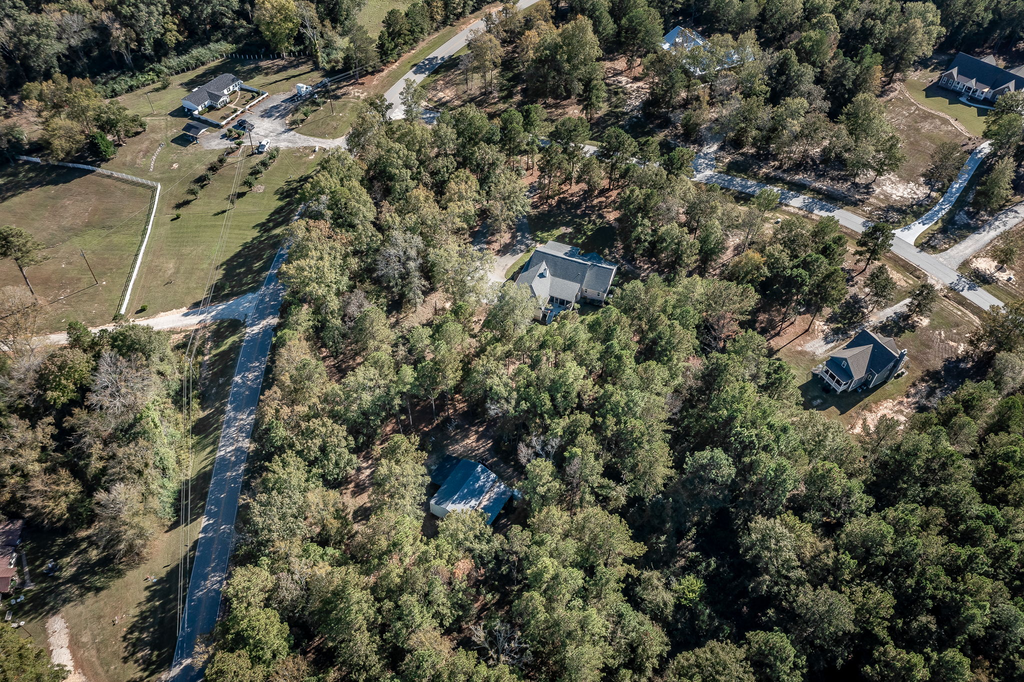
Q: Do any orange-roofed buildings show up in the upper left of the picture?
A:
No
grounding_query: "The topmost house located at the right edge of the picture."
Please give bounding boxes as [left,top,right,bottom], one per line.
[938,54,1024,109]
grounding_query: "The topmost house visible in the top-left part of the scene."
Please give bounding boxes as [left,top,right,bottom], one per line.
[177,73,241,114]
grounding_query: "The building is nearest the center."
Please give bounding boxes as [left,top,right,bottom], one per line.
[508,240,619,316]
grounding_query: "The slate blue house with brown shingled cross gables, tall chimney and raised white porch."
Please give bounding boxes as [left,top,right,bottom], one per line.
[808,324,913,392]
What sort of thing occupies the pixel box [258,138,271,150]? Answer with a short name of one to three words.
vehicle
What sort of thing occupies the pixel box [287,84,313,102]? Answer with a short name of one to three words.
vehicle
